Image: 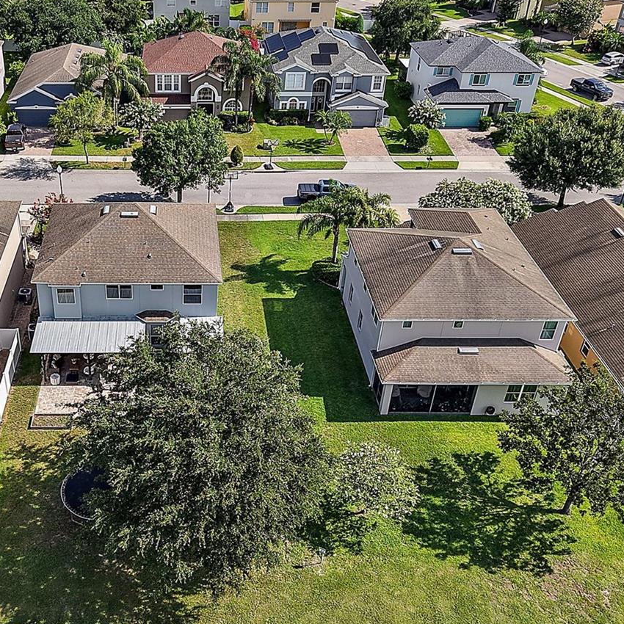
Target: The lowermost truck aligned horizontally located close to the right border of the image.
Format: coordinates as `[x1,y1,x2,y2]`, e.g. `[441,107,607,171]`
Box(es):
[567,73,615,95]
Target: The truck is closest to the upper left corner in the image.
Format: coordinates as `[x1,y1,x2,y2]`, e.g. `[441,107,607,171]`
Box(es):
[0,125,28,150]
